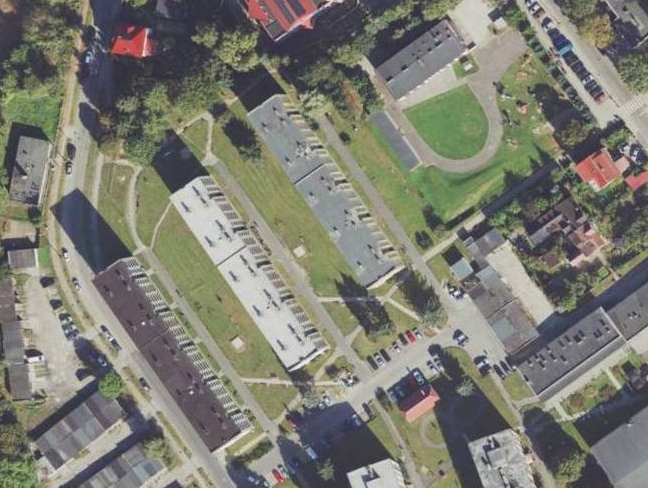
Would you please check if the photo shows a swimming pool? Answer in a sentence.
No, the photo shows no swimming pool.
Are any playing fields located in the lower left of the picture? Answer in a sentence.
No, no playing field is visible in the lower left of the picture.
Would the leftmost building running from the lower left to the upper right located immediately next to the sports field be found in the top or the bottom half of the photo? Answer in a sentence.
It is in the top half that the leftmost building running from the lower left to the upper right located immediately next to the sports field appears.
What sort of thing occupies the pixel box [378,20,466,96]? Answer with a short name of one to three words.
building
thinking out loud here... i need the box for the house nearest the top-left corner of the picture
[112,28,158,58]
